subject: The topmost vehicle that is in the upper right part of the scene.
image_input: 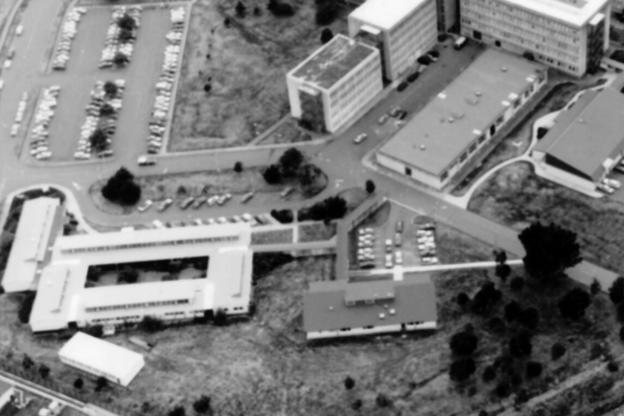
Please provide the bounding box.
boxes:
[452,32,469,49]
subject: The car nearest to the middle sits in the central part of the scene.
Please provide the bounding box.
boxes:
[278,186,293,198]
